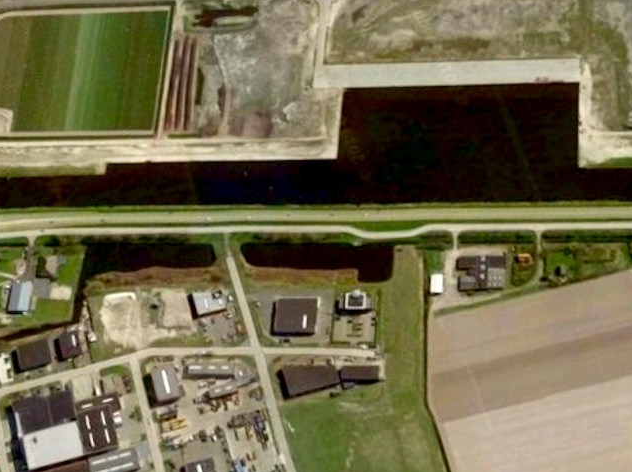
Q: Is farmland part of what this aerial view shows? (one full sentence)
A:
Yes, the picture does contain farmland.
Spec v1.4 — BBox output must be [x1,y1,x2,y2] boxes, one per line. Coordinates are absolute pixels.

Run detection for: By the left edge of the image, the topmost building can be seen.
[6,281,33,312]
